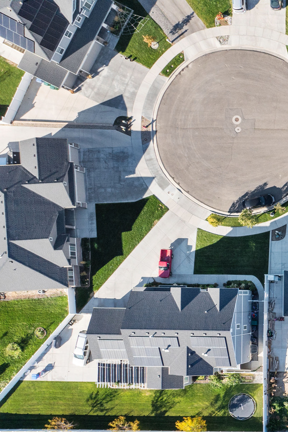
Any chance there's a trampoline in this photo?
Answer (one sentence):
Yes, there's a trampoline down there.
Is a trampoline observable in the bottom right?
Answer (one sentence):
Yes, a trampoline shows up in the bottom right.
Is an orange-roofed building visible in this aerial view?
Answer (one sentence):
No, I can't see a single orange-roofed building in this photo.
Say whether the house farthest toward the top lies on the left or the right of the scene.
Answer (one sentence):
The house farthest toward the top is on the left side of the image.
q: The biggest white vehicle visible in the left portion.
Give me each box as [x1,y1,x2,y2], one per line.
[72,331,90,365]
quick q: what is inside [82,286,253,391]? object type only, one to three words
house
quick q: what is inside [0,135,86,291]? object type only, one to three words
house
